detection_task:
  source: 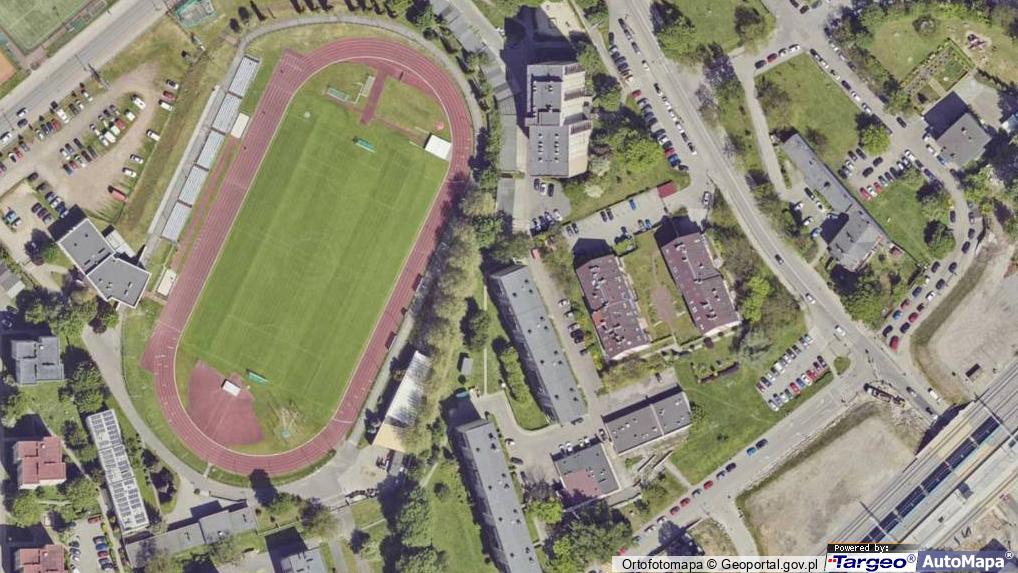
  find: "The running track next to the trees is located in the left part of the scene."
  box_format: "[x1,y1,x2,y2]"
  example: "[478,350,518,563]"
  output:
[137,37,472,476]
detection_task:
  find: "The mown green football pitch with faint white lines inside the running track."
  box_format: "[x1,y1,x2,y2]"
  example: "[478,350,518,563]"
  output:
[174,56,453,456]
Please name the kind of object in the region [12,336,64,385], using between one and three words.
house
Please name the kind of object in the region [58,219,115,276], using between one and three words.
building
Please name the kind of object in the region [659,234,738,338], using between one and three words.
building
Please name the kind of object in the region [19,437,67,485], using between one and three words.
house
